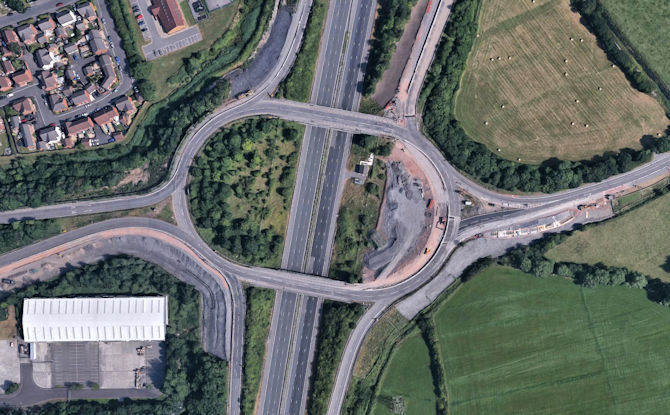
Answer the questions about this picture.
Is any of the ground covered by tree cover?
Yes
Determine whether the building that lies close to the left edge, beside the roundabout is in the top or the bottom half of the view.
bottom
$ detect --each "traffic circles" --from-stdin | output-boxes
[171,99,461,300]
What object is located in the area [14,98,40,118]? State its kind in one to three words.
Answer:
house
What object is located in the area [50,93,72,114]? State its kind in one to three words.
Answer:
house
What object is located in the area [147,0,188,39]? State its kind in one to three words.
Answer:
building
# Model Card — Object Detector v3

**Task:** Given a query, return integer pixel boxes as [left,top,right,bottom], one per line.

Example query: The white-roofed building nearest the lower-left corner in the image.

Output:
[22,296,170,343]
